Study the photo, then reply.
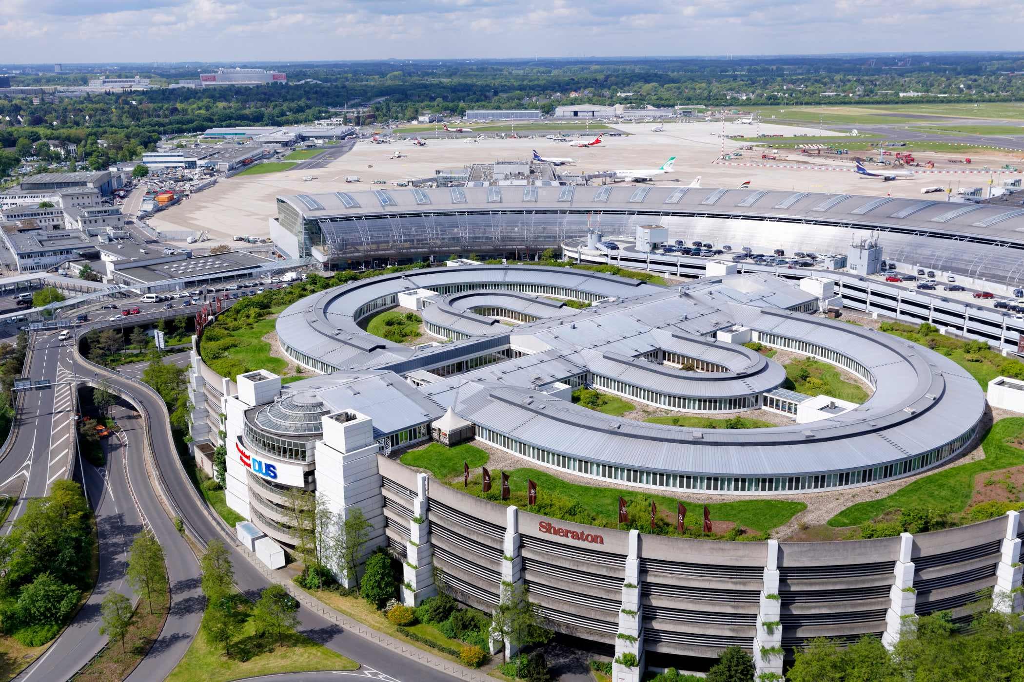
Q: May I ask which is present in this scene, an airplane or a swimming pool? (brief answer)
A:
airplane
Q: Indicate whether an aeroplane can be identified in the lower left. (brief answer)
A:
No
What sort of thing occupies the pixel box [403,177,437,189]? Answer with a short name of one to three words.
jet bridge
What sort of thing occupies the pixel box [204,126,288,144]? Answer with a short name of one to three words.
building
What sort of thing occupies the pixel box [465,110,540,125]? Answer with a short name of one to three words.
hangar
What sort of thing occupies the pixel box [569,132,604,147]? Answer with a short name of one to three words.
airplane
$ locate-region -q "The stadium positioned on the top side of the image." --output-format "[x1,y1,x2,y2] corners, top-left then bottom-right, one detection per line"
[199,68,301,87]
